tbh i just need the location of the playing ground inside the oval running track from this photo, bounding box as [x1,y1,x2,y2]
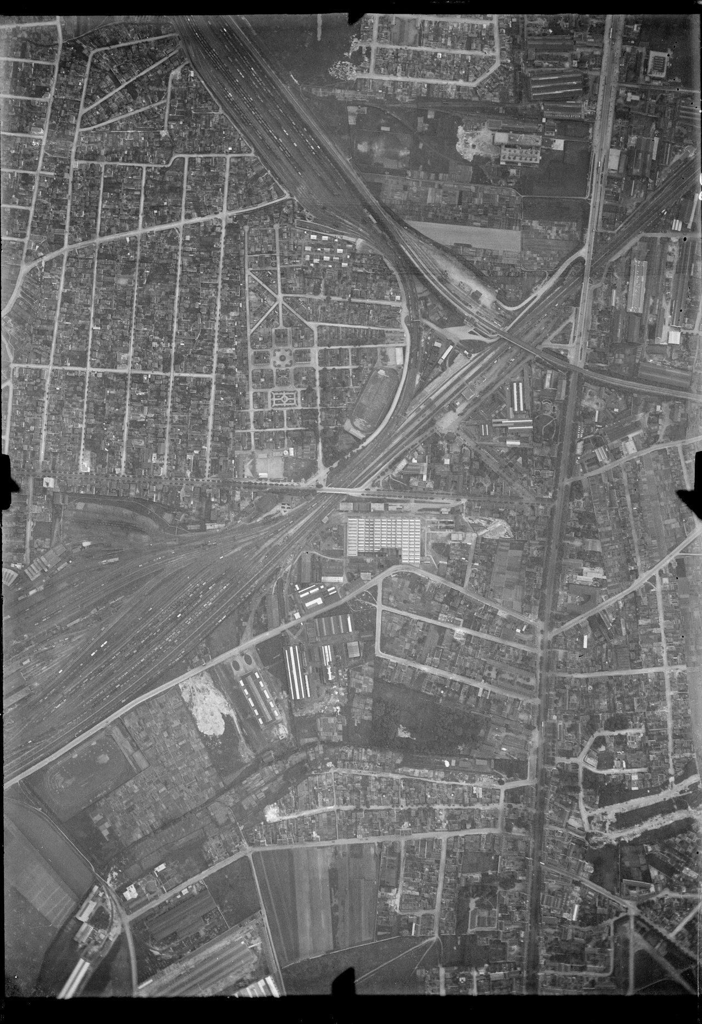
[352,367,400,432]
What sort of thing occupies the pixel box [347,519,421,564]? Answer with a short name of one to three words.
building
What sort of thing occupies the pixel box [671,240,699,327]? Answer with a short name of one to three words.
shed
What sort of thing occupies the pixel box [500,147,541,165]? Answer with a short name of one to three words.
building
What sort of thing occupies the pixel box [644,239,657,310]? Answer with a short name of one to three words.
shed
